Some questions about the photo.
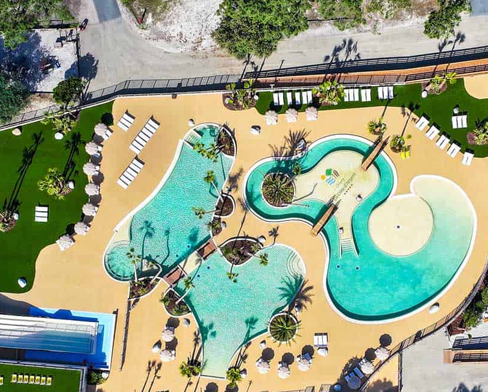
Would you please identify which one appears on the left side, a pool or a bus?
pool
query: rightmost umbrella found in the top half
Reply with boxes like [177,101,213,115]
[306,106,319,120]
